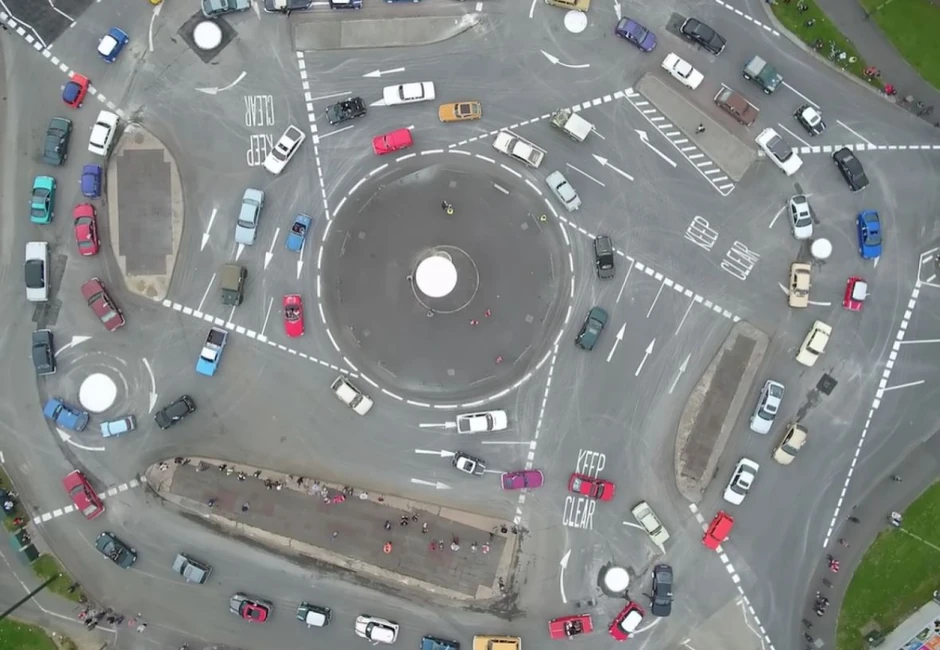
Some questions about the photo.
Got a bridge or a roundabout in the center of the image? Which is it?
roundabout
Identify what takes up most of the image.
paved ground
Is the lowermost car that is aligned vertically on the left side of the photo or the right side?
right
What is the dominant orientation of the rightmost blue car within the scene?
vertically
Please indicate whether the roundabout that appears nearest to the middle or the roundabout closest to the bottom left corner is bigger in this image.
the roundabout that appears nearest to the middle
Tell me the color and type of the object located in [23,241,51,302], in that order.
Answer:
white car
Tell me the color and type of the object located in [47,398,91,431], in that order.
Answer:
blue car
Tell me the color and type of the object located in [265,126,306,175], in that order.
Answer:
white car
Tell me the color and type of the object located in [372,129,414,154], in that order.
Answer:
red car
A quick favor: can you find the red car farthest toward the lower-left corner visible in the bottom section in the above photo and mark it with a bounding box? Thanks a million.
[65,470,106,519]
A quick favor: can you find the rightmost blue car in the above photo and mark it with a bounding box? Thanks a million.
[857,210,885,260]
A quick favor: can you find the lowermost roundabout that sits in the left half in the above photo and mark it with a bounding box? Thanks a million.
[74,370,121,417]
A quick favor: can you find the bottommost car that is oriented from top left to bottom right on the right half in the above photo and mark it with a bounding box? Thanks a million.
[632,500,669,544]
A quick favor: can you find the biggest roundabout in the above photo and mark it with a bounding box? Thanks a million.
[317,150,575,408]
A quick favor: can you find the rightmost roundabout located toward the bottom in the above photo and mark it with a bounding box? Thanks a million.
[601,565,632,595]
